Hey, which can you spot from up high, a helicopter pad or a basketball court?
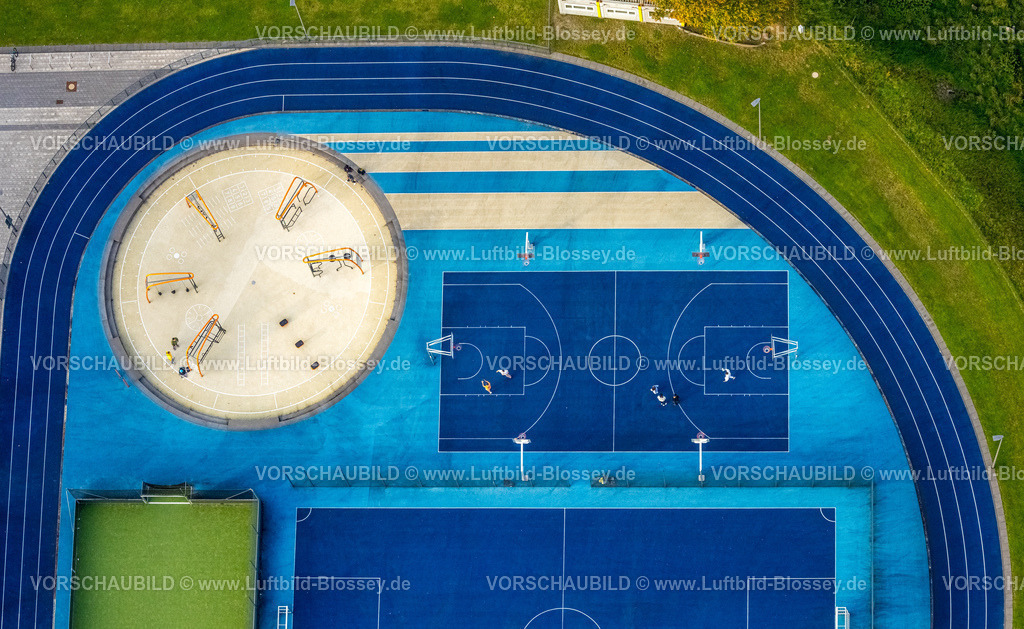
basketball court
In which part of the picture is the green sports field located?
bottom left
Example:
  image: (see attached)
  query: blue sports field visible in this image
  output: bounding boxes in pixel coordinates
[292,507,837,629]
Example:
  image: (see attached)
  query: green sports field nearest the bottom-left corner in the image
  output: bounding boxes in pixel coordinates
[73,503,258,629]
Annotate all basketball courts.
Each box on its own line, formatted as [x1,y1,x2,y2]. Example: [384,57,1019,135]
[439,270,790,452]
